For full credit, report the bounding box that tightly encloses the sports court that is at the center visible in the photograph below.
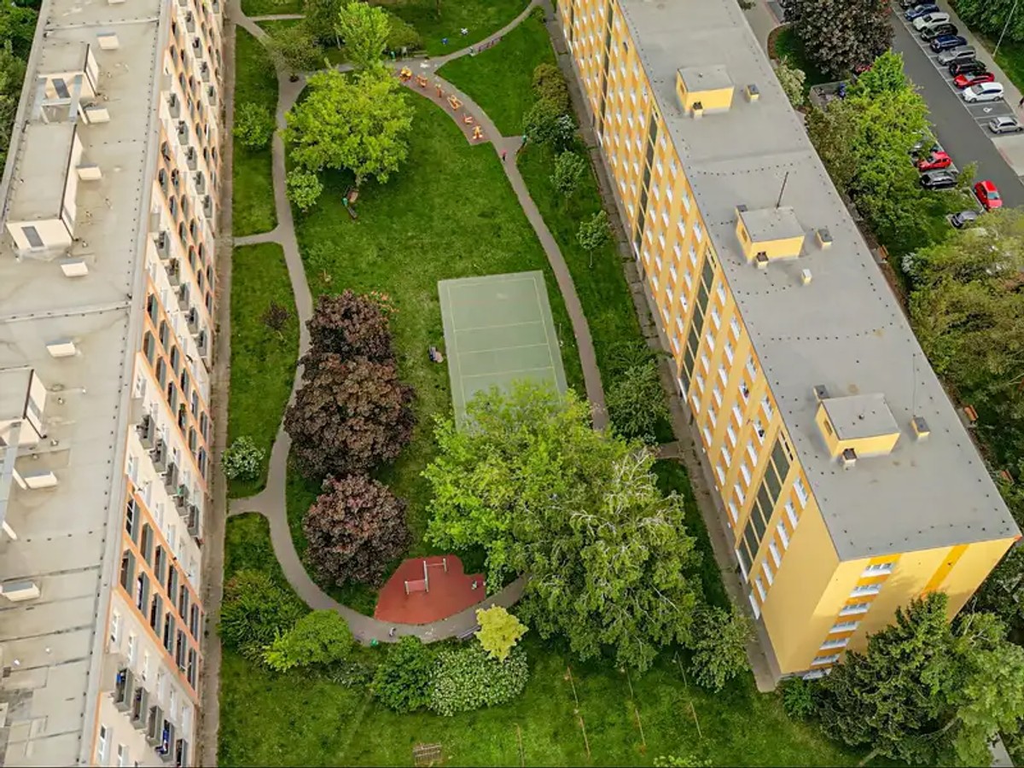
[438,271,571,422]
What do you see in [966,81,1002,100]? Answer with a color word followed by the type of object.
white car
